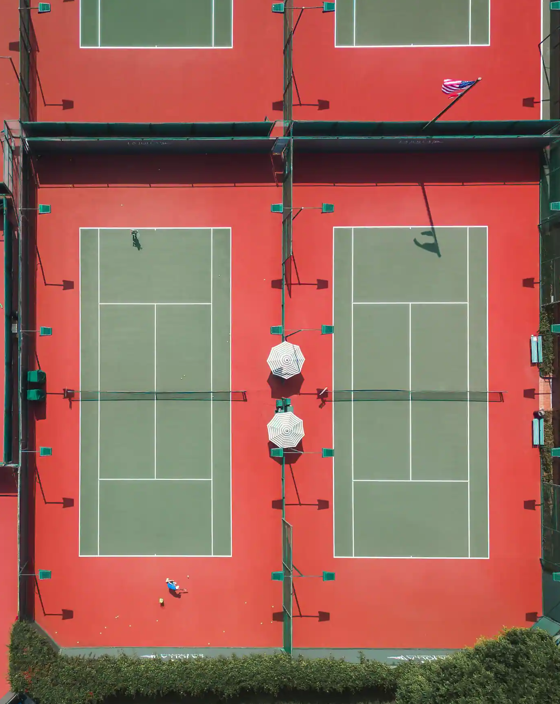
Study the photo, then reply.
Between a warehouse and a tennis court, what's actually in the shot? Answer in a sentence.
There is a tennis court in the scene.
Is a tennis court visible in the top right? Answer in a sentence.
Yes, you'll find a tennis court in the top right.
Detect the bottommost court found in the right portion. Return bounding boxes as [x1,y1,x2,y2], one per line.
[284,153,540,647]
